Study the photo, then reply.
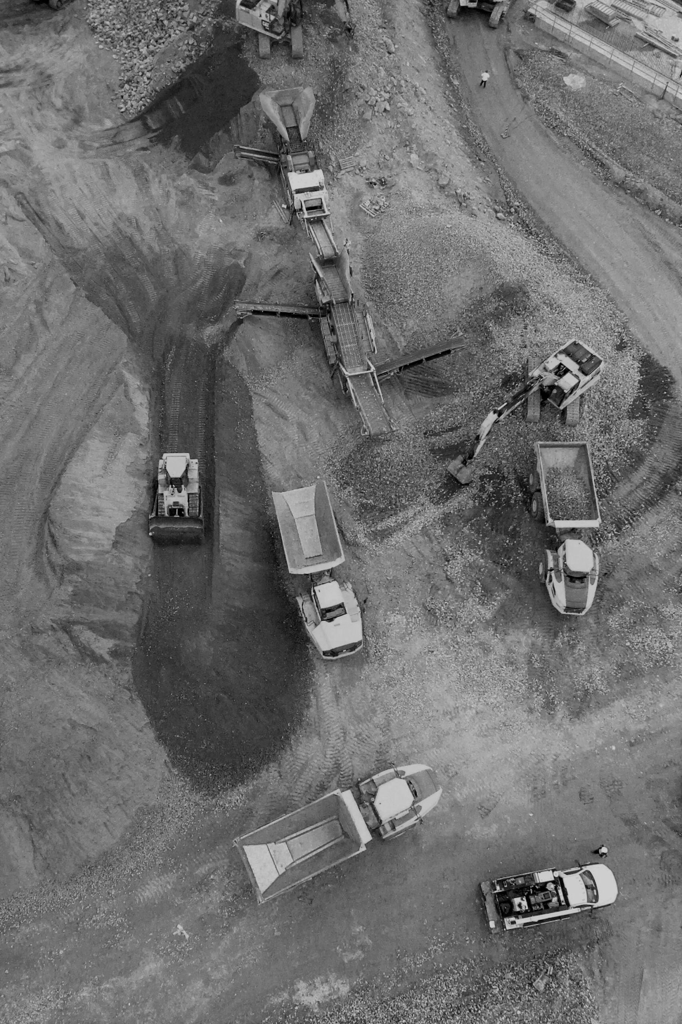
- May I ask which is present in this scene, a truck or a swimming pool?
truck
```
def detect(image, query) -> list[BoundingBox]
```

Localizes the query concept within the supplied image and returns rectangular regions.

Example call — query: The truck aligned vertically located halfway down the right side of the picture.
[530,438,608,615]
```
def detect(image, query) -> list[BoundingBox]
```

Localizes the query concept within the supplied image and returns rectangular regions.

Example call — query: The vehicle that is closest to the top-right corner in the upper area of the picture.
[452,0,514,25]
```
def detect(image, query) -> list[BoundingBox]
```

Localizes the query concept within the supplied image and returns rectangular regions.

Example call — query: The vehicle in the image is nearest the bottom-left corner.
[229,761,442,911]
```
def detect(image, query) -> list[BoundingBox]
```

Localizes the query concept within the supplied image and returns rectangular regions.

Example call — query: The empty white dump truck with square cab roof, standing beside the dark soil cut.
[272,479,361,665]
